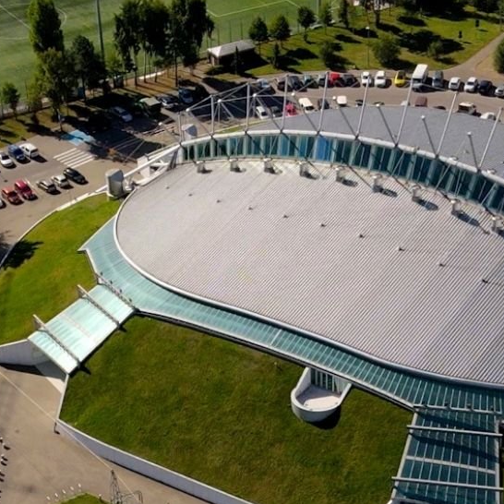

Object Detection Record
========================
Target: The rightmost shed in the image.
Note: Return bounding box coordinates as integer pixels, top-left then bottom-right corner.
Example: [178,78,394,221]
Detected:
[201,31,255,66]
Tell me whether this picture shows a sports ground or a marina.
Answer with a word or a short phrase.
sports ground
